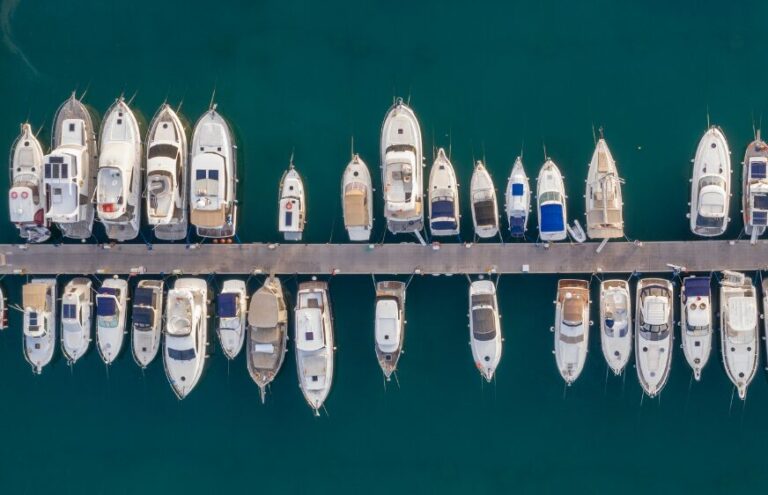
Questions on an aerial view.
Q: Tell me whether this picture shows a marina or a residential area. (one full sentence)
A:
The area seen from above is a marina.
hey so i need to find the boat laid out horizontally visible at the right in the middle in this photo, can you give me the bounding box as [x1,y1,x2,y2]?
[722,270,748,284]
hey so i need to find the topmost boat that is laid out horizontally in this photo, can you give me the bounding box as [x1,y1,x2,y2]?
[16,229,48,242]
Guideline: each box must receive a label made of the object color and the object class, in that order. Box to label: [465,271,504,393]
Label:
white boat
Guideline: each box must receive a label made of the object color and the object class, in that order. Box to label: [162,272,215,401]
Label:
white boat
